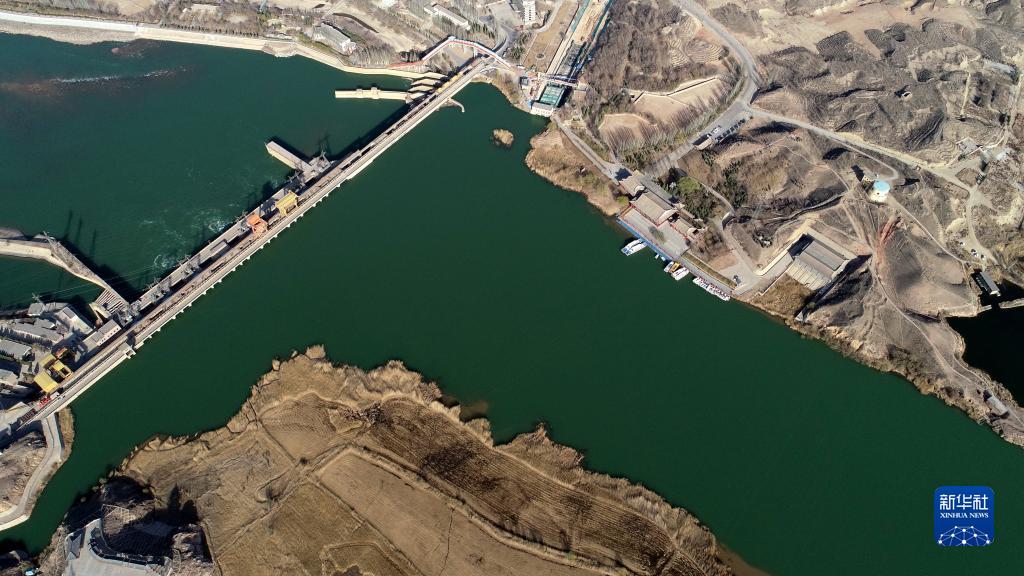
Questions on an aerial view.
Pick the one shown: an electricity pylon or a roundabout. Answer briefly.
electricity pylon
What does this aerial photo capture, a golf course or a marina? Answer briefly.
marina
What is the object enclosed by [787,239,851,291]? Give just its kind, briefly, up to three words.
building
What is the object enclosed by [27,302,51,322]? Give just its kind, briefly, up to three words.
building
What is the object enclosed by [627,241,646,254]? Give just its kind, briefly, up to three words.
boat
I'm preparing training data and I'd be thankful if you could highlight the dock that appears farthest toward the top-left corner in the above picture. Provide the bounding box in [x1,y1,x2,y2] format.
[267,143,309,174]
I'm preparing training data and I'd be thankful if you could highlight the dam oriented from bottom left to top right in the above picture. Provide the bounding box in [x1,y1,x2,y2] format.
[9,53,496,438]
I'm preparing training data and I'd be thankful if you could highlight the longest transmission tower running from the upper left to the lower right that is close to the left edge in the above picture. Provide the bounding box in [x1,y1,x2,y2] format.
[36,230,60,254]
